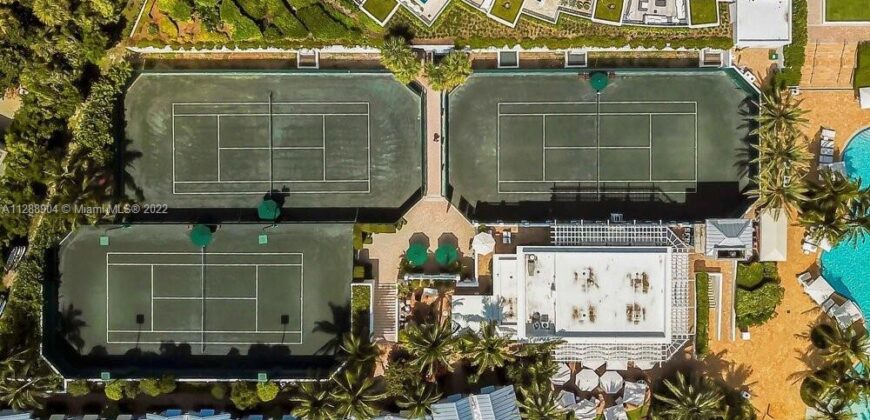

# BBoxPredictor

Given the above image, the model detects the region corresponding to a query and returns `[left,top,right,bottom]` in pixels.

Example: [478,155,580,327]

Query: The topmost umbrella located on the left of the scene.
[257,200,280,220]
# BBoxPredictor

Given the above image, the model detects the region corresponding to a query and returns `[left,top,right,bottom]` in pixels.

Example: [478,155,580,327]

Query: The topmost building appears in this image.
[732,0,793,46]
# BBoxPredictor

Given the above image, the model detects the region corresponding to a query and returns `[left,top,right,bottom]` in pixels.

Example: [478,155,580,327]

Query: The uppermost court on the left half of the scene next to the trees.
[125,74,421,222]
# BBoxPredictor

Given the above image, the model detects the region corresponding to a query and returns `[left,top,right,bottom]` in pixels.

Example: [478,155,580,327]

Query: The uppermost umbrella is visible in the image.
[587,71,608,92]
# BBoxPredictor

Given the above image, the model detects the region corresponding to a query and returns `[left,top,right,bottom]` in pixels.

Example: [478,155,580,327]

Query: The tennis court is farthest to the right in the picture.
[448,74,749,222]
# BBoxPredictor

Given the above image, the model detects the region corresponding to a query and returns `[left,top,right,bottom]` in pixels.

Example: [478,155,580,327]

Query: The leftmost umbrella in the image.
[190,225,213,247]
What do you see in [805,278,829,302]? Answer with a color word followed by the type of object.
white umbrella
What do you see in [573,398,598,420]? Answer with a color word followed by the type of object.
white umbrella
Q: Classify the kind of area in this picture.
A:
sports ground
